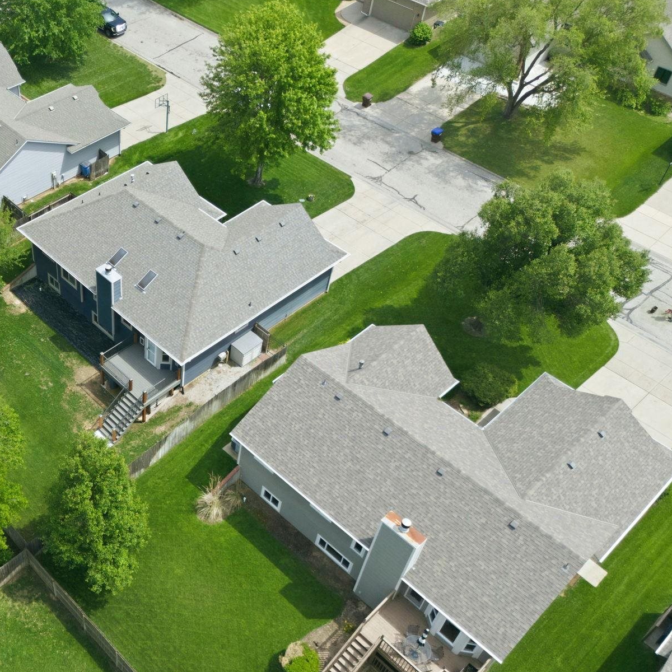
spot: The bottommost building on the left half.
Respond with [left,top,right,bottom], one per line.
[15,161,352,395]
